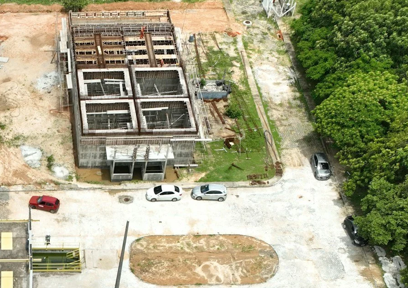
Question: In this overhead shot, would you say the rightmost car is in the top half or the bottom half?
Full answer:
Seen from above, the rightmost car lies in the bottom half of the view.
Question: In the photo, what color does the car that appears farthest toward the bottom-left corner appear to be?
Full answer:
The car that appears farthest toward the bottom-left corner looks red in the image.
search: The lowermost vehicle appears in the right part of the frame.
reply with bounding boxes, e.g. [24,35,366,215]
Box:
[343,213,370,244]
